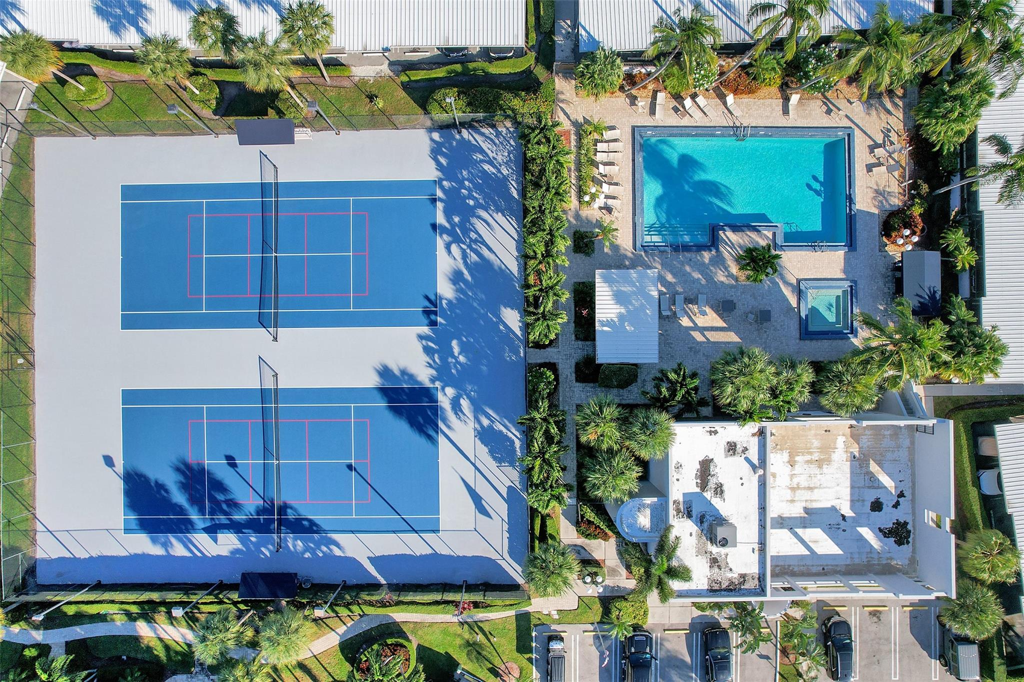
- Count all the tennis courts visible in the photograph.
two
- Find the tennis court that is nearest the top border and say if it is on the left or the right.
left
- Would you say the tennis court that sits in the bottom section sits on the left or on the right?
left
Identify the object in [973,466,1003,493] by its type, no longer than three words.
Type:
car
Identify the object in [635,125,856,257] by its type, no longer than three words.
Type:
swimming pool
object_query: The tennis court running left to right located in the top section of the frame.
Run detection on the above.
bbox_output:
[120,179,439,330]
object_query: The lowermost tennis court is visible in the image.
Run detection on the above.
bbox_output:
[121,386,440,535]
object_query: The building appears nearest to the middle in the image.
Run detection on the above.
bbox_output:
[595,269,661,363]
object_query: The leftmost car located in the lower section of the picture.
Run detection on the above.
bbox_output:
[540,637,570,682]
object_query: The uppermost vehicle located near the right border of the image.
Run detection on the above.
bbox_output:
[973,432,998,457]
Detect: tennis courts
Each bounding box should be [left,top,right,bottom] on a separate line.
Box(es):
[120,179,439,330]
[121,386,440,535]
